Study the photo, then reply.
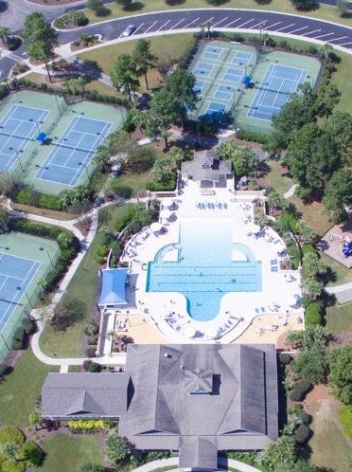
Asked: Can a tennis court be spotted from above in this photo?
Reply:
Yes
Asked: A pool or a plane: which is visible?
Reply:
pool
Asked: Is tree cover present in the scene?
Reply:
Yes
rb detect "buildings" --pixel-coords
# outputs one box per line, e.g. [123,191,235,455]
[39,341,279,472]
[178,141,232,179]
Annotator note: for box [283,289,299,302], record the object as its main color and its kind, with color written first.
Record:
white umbrella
